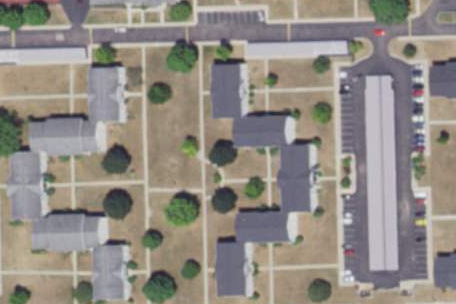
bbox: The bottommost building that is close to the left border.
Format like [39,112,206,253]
[6,66,136,300]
